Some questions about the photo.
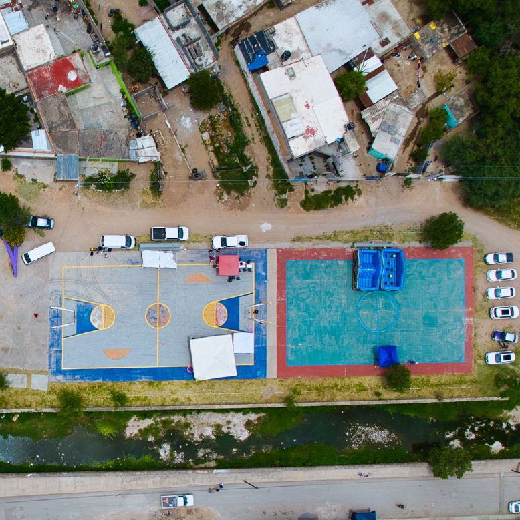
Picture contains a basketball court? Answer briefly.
Yes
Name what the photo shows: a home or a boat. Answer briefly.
home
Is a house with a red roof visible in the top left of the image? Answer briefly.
Yes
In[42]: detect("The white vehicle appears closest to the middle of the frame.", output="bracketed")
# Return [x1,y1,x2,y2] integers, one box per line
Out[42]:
[211,233,249,249]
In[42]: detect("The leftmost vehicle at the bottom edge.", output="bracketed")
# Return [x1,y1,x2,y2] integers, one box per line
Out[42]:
[160,493,194,509]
